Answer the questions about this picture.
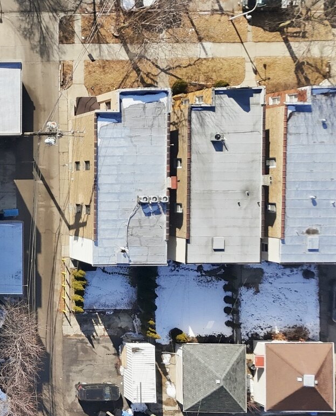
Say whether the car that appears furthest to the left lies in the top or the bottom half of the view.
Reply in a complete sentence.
You can find the car that appears furthest to the left in the bottom half.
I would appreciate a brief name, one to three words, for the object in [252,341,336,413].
building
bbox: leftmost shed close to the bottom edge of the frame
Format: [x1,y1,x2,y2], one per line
[114,340,157,405]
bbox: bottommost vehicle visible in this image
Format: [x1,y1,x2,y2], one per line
[75,382,119,404]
